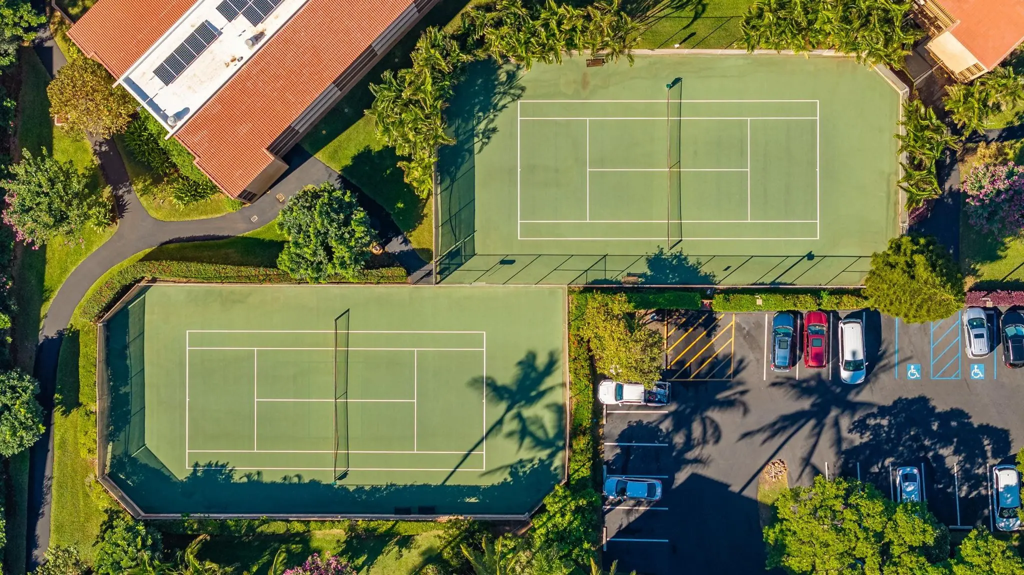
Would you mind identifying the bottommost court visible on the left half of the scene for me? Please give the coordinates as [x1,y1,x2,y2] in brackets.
[107,287,566,514]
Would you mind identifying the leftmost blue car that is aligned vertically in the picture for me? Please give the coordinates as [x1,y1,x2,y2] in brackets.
[769,311,798,372]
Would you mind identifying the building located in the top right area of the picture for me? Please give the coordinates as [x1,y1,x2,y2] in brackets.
[890,0,1024,95]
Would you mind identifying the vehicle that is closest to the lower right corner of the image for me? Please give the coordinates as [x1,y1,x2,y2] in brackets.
[991,464,1023,531]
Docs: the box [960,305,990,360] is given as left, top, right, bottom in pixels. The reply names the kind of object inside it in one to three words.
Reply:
car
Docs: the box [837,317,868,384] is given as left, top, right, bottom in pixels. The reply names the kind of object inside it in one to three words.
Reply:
car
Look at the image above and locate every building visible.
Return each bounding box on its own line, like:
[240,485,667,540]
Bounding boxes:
[63,0,440,204]
[890,0,1024,95]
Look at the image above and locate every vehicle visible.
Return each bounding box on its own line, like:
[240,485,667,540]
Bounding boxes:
[598,378,671,408]
[960,305,990,360]
[998,308,1024,371]
[769,311,798,372]
[895,464,925,522]
[837,317,868,384]
[991,464,1023,531]
[801,310,830,369]
[602,475,662,502]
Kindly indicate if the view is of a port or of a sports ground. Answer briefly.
sports ground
